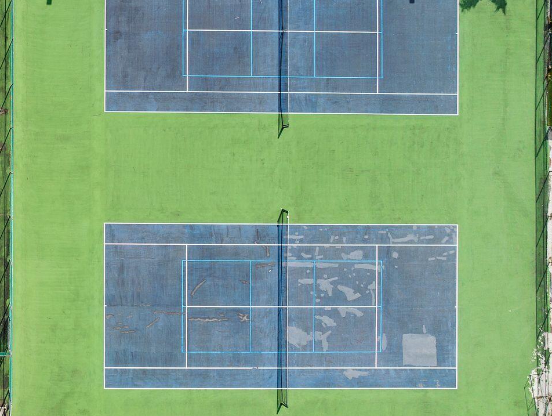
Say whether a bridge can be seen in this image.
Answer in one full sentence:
No, there's no bridge here.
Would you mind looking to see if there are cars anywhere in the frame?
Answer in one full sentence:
No, no car can be seen from above.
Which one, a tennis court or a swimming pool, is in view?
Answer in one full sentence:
Looking from above, you can make out a tennis court.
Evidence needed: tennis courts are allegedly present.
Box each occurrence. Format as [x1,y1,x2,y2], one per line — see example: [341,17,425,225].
[104,223,458,389]
[104,0,458,115]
